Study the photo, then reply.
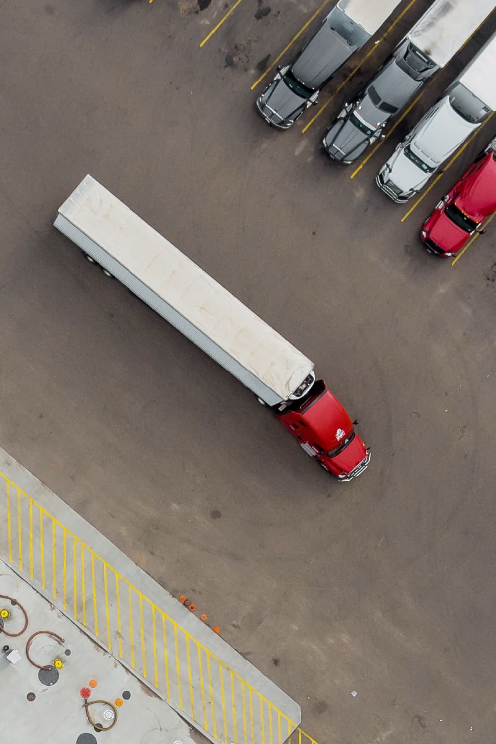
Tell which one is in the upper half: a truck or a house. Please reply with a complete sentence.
What appears in the upper half is a truck.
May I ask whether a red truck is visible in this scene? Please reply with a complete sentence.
Yes, the photo shows a red truck.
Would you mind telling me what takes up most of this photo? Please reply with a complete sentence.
The scene is dominated by paved ground.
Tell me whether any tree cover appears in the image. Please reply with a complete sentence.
No, there's no tree cover in this view.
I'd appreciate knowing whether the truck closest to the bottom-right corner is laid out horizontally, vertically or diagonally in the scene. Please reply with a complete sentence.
The truck closest to the bottom-right corner is oriented diagonally.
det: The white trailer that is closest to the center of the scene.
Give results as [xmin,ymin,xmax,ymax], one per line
[51,174,314,407]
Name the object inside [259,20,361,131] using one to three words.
truck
